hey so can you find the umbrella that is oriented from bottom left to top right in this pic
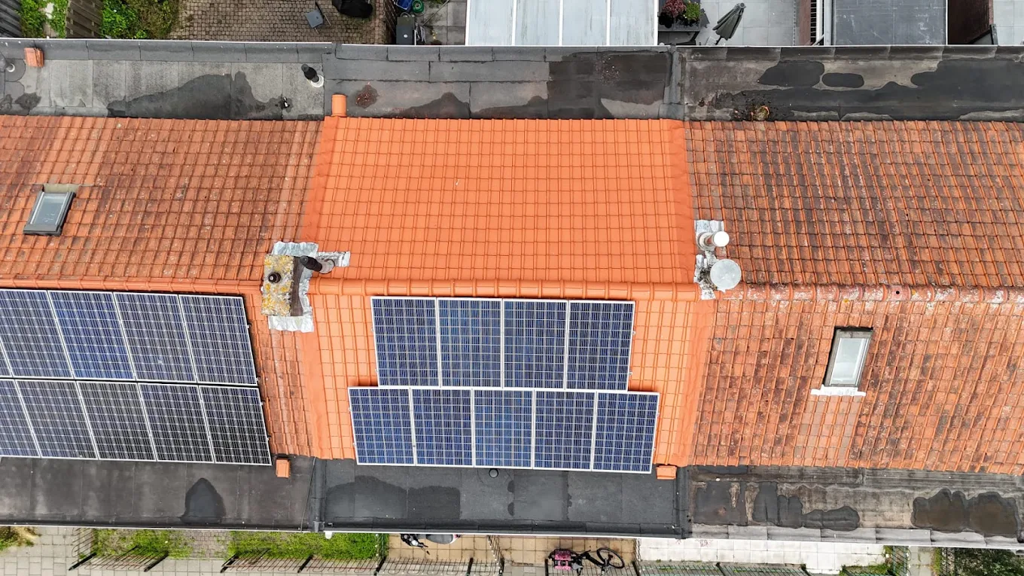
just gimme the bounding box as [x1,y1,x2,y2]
[706,0,755,45]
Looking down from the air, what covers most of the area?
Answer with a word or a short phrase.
buildings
